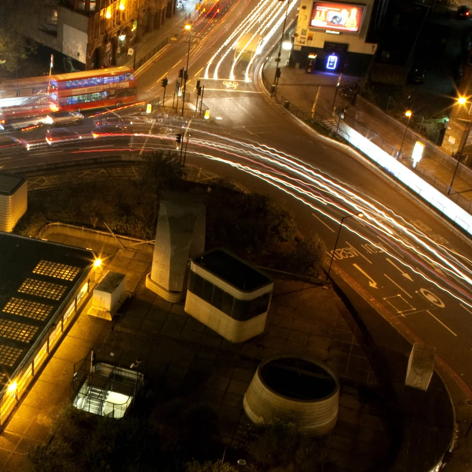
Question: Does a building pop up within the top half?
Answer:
Yes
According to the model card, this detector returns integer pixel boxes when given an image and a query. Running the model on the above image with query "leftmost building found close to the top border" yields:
[30,0,196,69]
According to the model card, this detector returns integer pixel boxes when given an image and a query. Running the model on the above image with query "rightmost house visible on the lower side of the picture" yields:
[185,249,273,339]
